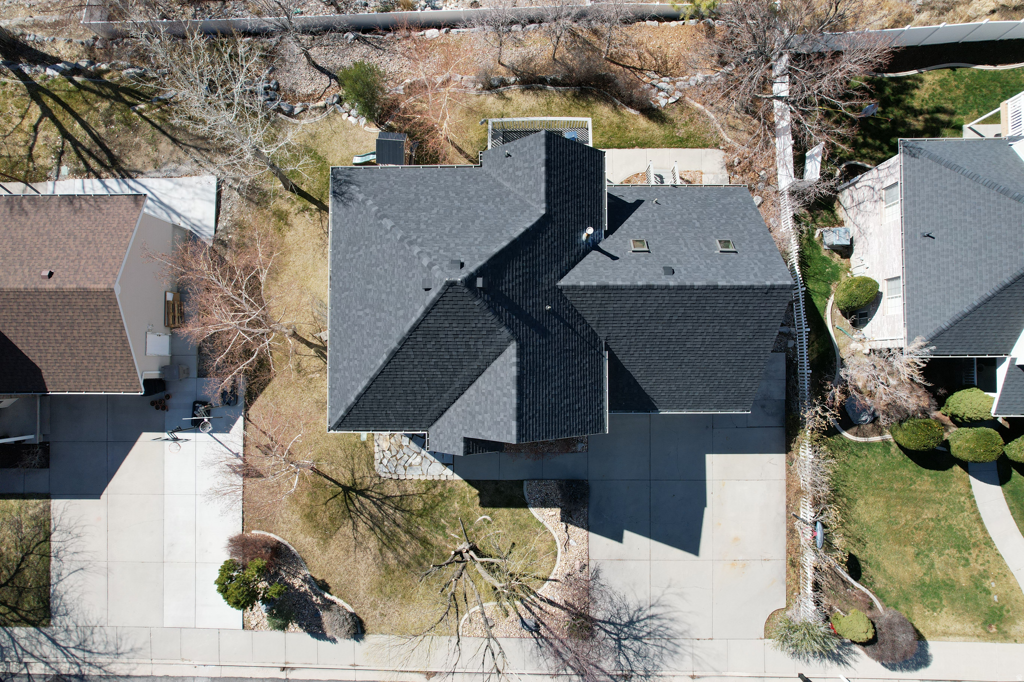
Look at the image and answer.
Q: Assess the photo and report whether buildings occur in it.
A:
Yes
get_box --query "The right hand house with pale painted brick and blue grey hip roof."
[839,122,1024,418]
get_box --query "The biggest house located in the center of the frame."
[329,134,790,457]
